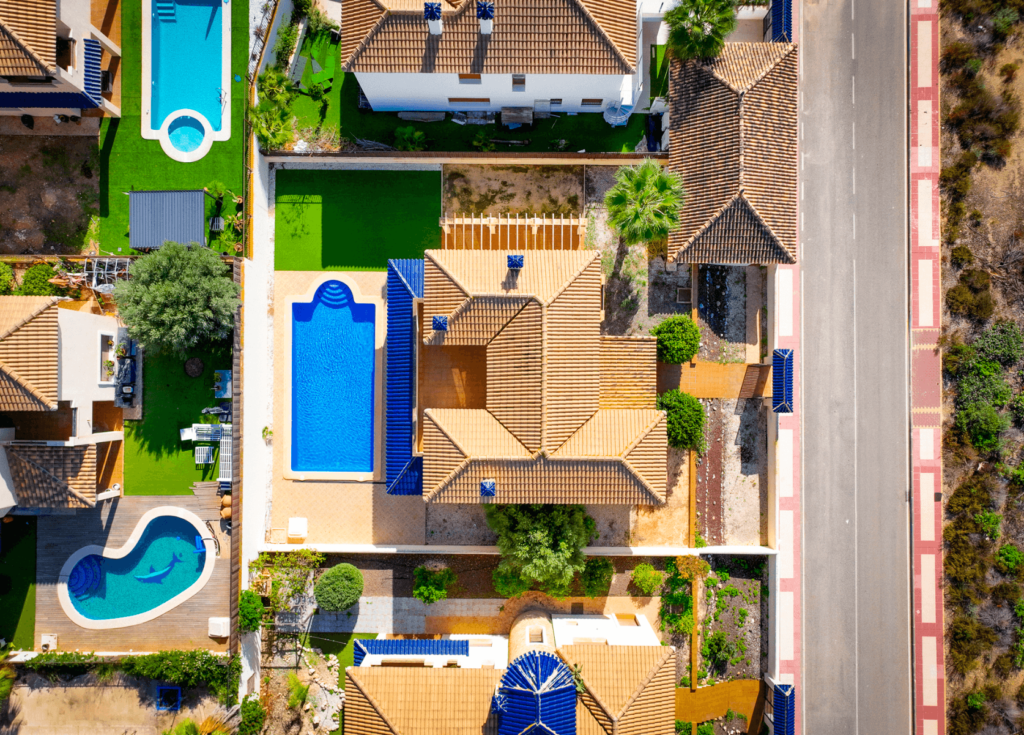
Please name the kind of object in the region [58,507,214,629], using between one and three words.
swimming pool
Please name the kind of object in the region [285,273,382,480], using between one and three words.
swimming pool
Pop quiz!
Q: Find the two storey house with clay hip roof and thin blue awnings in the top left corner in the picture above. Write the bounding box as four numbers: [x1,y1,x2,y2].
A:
[0,0,121,117]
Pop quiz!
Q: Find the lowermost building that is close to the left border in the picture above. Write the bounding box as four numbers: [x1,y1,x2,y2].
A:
[0,295,125,520]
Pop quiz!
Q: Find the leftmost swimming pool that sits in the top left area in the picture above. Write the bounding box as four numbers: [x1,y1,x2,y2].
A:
[142,0,230,165]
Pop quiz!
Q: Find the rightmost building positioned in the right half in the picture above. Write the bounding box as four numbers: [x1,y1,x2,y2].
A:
[667,41,800,266]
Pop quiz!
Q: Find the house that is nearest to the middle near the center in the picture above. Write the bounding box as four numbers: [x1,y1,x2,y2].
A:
[385,247,668,506]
